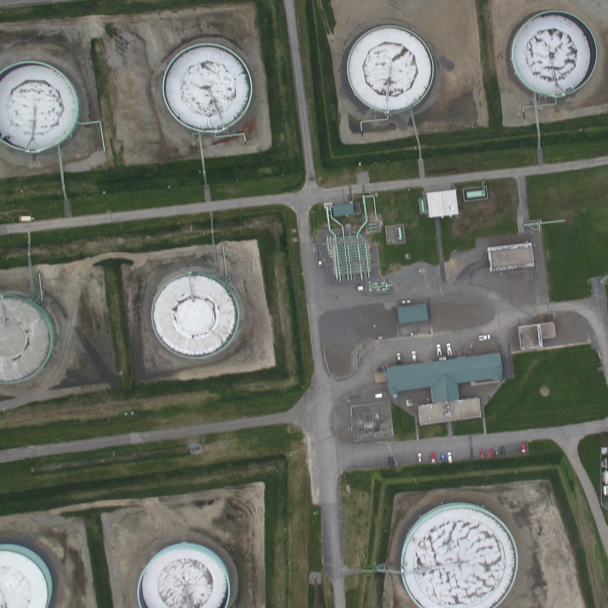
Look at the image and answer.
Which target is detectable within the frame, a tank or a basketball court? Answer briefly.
tank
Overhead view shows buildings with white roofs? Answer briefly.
Yes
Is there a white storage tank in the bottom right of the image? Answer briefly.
Yes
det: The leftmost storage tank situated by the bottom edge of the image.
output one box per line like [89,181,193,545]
[0,543,58,608]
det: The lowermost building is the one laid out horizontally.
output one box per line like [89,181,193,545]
[418,396,481,426]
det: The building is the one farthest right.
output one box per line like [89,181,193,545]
[518,321,556,349]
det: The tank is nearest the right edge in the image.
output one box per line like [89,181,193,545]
[506,10,596,101]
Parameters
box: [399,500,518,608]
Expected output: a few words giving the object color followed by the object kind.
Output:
white storage tank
